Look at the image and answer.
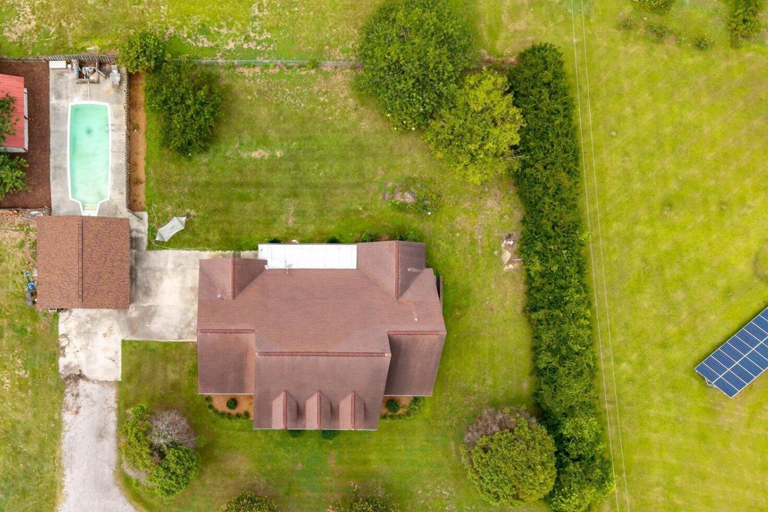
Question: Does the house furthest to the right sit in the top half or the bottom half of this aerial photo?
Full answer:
Seen from above, the house furthest to the right lies in the bottom half of the view.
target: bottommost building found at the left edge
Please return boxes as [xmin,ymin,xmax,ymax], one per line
[36,214,131,309]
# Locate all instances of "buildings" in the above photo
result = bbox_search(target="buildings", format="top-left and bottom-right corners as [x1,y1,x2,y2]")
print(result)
[36,214,131,309]
[0,73,28,152]
[196,240,444,430]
